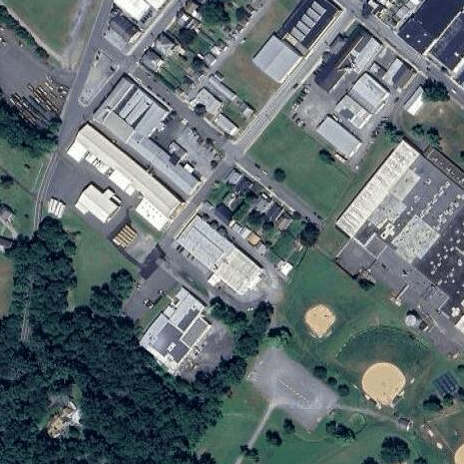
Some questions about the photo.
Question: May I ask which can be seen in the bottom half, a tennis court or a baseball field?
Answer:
baseball field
